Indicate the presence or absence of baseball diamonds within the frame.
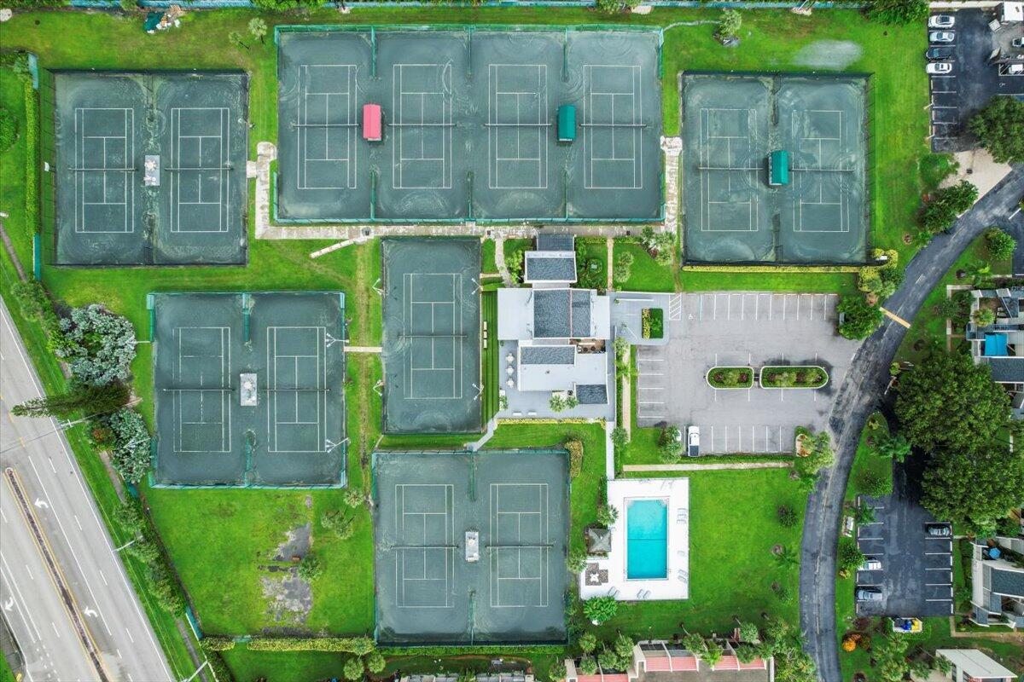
No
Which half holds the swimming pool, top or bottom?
bottom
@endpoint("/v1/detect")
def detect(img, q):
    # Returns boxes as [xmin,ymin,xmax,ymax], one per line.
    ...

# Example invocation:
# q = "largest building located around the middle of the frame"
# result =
[497,235,610,405]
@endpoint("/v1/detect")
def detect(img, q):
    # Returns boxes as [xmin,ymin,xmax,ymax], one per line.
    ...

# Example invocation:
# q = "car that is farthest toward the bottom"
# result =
[856,588,883,601]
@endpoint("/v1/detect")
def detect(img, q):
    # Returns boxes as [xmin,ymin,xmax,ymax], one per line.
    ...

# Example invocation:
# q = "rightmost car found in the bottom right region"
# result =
[925,524,951,536]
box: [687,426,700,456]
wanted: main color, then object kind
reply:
white vehicle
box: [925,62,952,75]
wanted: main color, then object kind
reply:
white vehicle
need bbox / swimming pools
[579,478,689,602]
